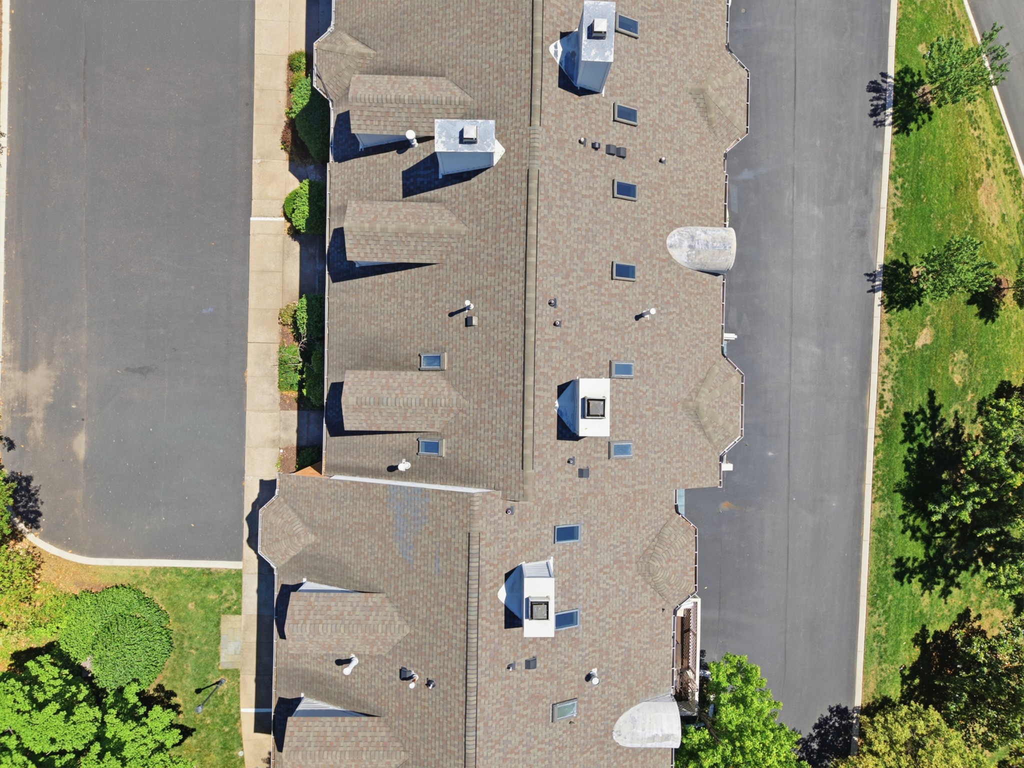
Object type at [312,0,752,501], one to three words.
house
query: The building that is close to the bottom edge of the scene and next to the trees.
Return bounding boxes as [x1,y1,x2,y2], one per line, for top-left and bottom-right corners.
[256,462,700,768]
